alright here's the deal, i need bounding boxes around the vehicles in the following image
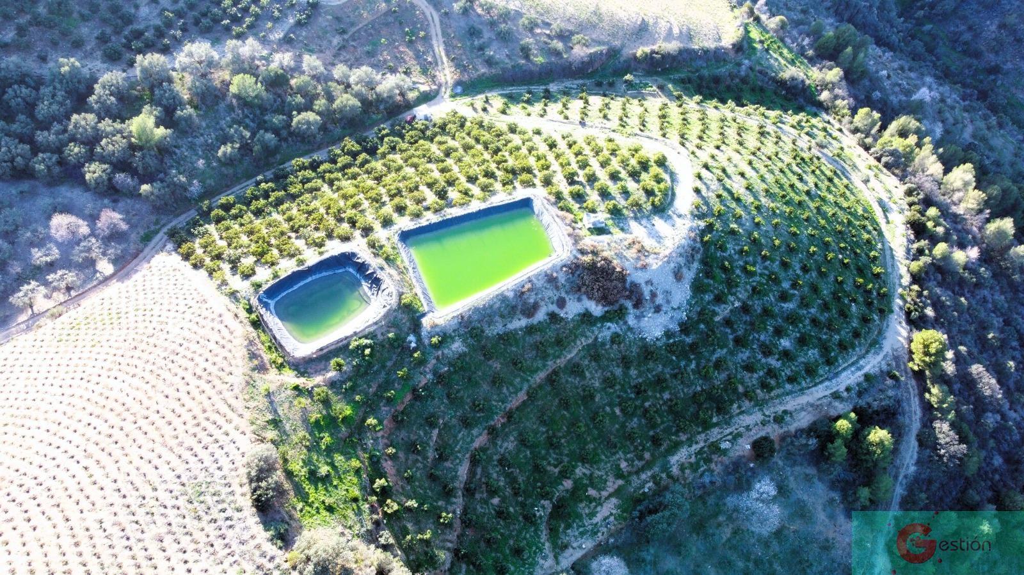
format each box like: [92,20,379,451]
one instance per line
[402,113,415,123]
[414,109,433,120]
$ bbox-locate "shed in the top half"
[584,214,607,231]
